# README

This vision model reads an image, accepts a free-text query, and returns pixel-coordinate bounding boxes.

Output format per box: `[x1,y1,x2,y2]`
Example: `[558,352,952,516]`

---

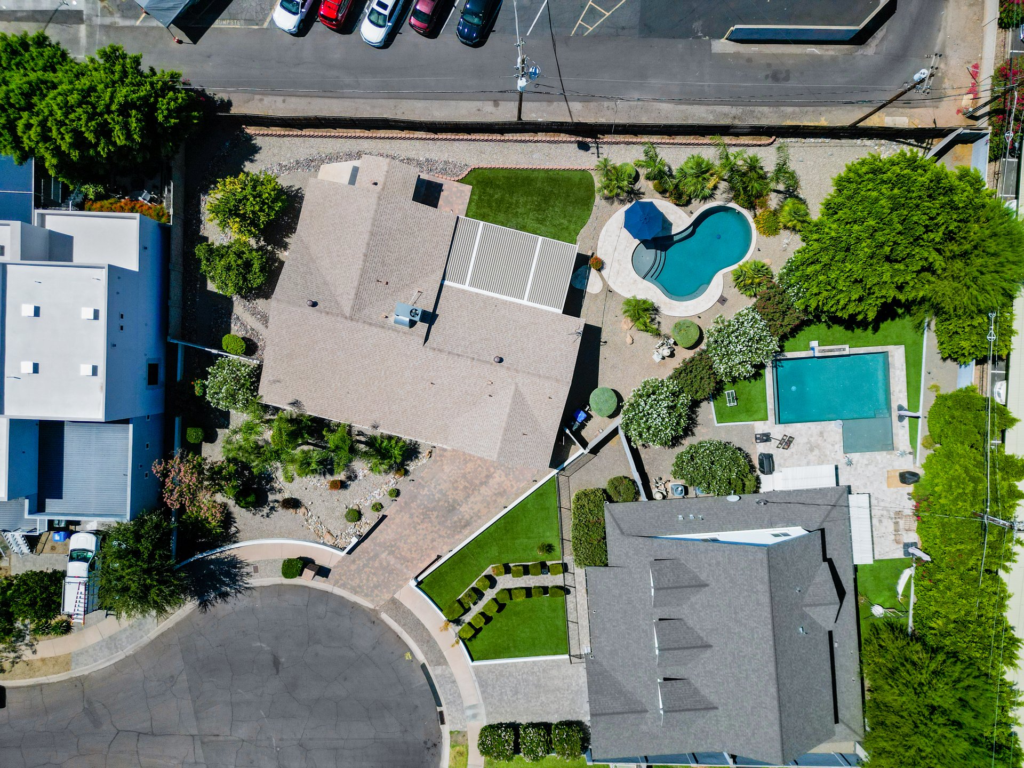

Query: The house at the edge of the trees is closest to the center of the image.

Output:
[258,155,585,469]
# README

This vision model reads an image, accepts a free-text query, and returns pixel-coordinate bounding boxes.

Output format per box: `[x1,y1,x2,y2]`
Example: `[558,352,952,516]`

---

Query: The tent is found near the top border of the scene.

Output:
[136,0,194,41]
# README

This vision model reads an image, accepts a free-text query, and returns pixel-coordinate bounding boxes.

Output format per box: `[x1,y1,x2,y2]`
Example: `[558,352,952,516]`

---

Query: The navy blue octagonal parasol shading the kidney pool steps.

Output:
[624,200,664,241]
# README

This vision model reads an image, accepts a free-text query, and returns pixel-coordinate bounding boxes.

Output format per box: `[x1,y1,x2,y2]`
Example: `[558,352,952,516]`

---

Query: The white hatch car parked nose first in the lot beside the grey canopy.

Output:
[273,0,316,33]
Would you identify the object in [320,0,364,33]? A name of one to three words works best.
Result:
car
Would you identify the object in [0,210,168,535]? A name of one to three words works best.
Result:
house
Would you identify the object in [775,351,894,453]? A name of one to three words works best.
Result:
swimming pool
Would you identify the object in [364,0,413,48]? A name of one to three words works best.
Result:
car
